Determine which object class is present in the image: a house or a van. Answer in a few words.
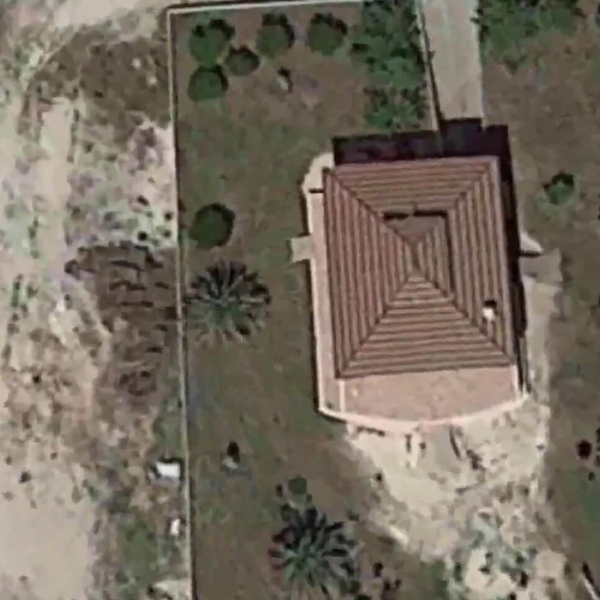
house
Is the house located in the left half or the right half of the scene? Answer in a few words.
right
